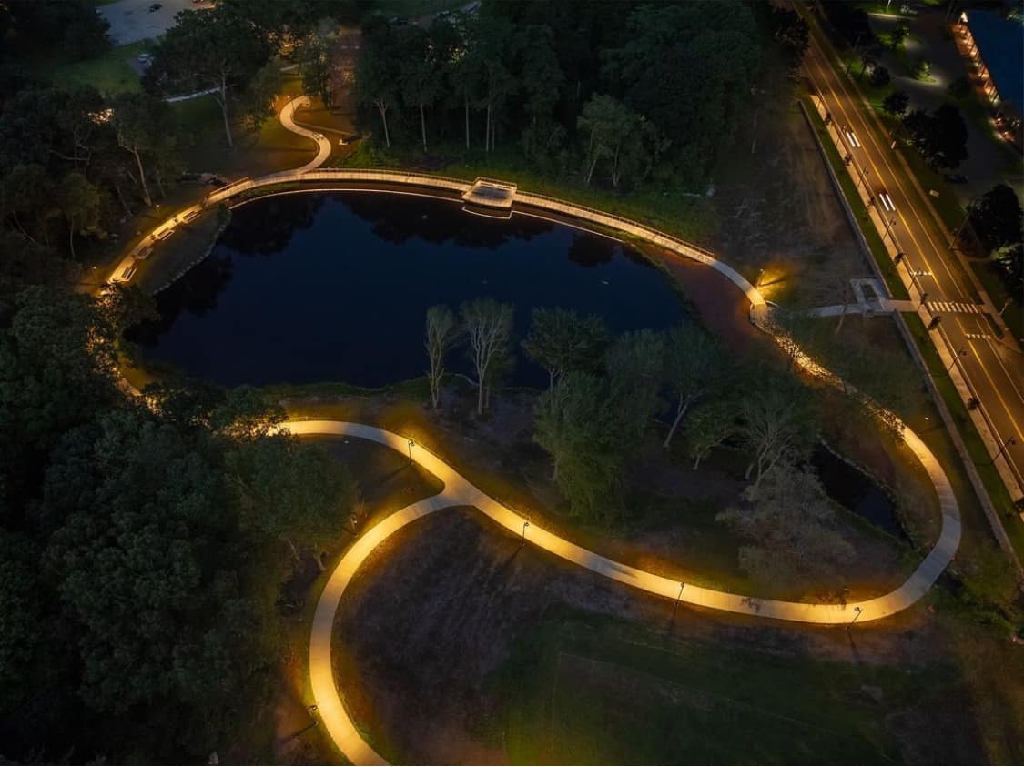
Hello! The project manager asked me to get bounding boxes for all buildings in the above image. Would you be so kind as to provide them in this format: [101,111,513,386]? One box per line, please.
[960,10,1024,122]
